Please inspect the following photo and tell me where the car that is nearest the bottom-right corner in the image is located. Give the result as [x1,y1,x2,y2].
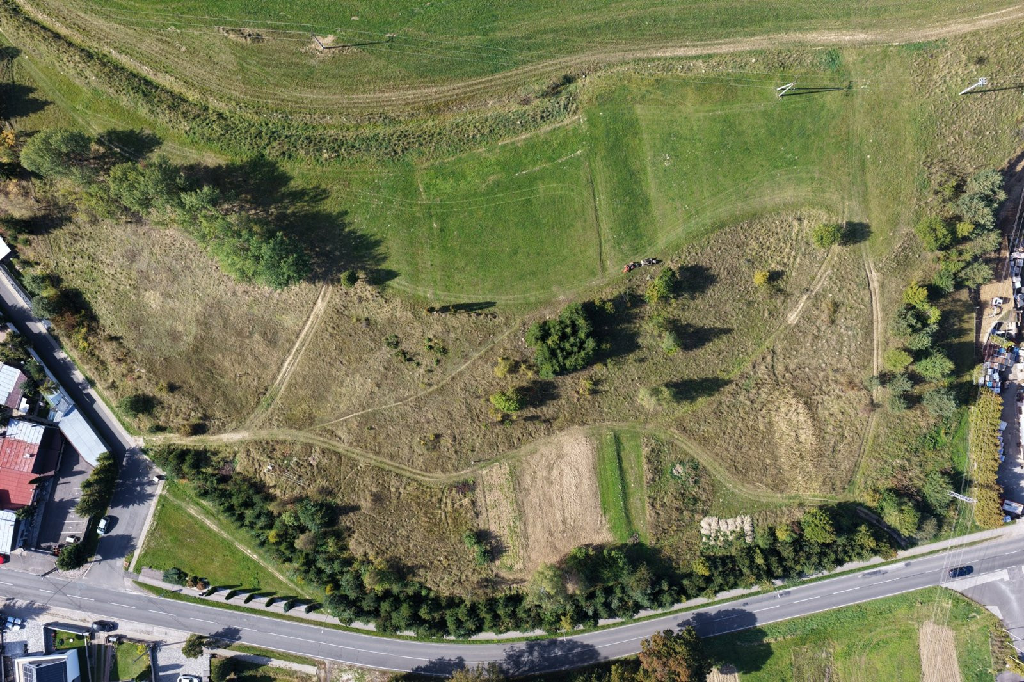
[951,565,973,578]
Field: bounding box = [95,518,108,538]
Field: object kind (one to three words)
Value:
vehicle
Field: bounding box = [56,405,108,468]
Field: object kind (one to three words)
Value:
shed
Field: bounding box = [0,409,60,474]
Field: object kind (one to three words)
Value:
house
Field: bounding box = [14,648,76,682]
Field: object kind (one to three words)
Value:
house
